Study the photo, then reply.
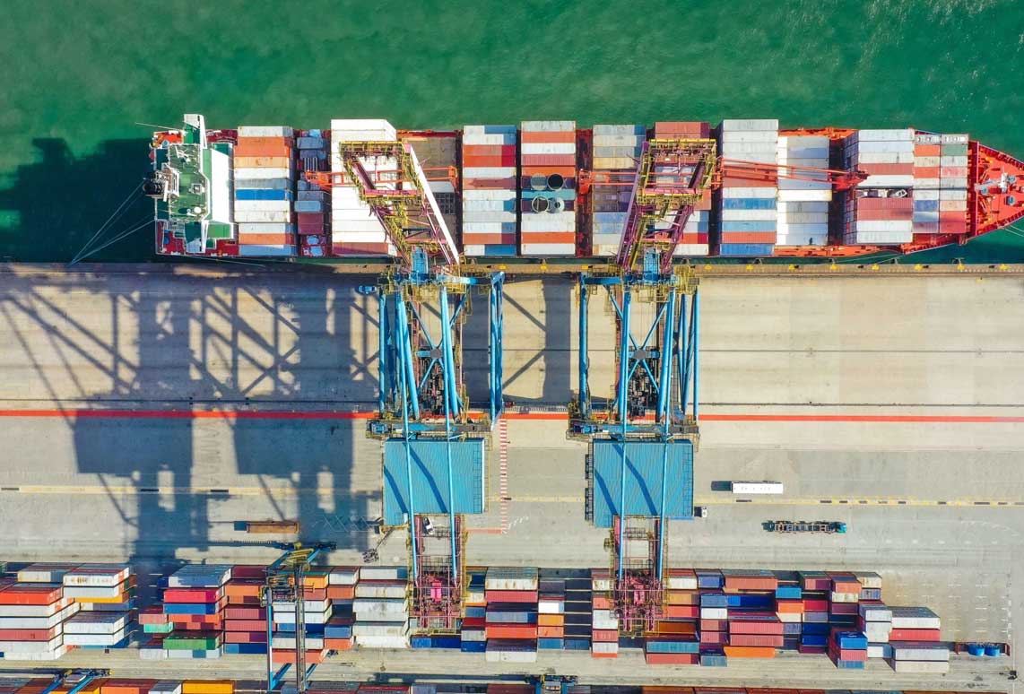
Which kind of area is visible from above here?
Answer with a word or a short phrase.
port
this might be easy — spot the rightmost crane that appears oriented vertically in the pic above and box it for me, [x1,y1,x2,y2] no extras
[554,138,720,633]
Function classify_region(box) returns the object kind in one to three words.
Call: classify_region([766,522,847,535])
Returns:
vehicle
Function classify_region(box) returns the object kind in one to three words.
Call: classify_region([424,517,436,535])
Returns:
vehicle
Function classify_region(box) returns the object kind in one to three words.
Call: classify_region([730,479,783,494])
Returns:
trailer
